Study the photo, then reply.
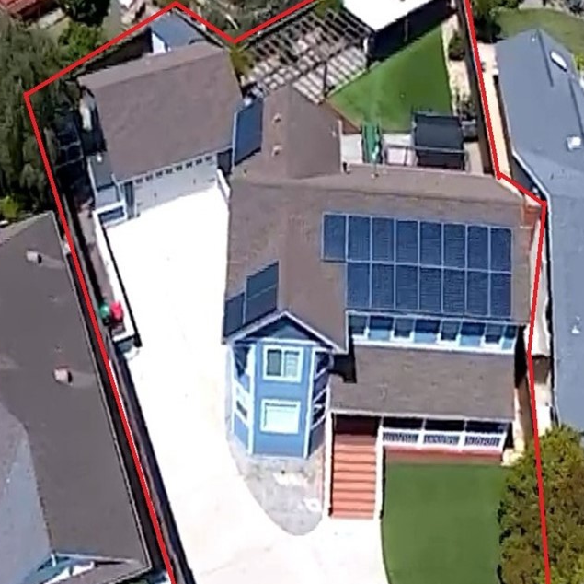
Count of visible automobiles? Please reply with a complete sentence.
No automobiles are visible.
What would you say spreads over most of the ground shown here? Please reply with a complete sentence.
What you mostly see from above here is buildings.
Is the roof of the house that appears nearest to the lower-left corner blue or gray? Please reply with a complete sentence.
The roof of the house that appears nearest to the lower-left corner is gray.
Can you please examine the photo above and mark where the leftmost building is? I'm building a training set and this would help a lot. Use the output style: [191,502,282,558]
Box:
[0,214,152,584]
